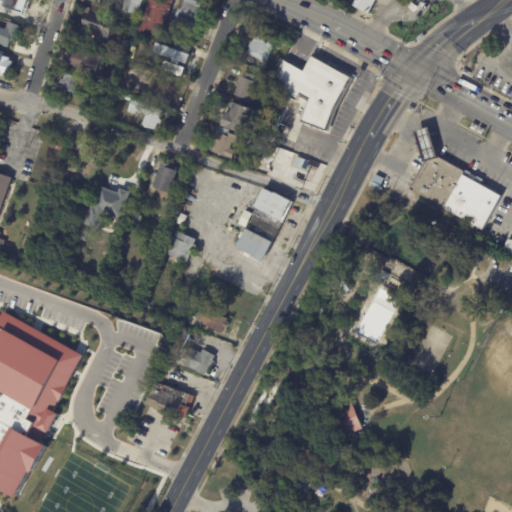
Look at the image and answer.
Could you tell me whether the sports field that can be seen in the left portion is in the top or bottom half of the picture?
bottom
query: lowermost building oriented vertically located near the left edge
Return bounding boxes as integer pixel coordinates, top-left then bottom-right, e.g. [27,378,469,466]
[0,312,82,497]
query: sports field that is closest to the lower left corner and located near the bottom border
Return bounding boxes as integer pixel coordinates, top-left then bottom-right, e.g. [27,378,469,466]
[42,452,134,512]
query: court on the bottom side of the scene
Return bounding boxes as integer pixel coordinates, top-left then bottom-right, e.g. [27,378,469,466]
[416,326,453,366]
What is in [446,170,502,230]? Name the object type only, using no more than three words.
building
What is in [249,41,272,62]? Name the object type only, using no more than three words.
house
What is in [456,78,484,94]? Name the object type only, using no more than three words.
vehicle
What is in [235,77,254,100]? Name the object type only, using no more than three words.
house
